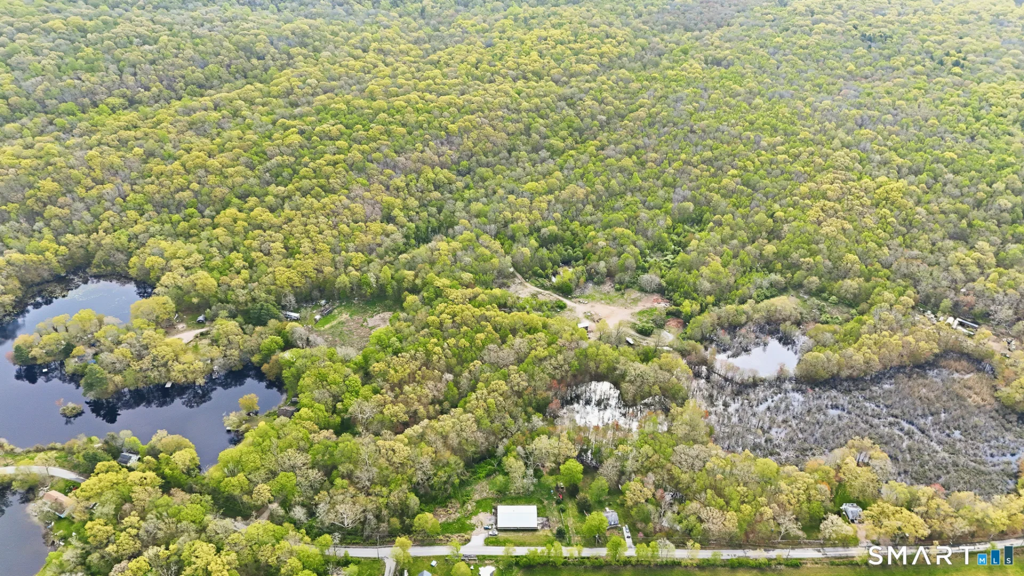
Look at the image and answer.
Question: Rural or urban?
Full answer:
This place is rural.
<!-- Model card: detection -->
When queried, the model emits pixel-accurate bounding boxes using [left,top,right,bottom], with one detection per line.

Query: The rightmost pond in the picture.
[701,323,838,388]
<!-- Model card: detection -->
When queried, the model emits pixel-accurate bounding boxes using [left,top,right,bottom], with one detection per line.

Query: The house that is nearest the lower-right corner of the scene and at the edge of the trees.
[841,503,863,523]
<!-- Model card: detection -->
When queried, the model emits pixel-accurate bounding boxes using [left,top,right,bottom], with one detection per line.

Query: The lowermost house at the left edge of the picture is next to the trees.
[39,491,74,517]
